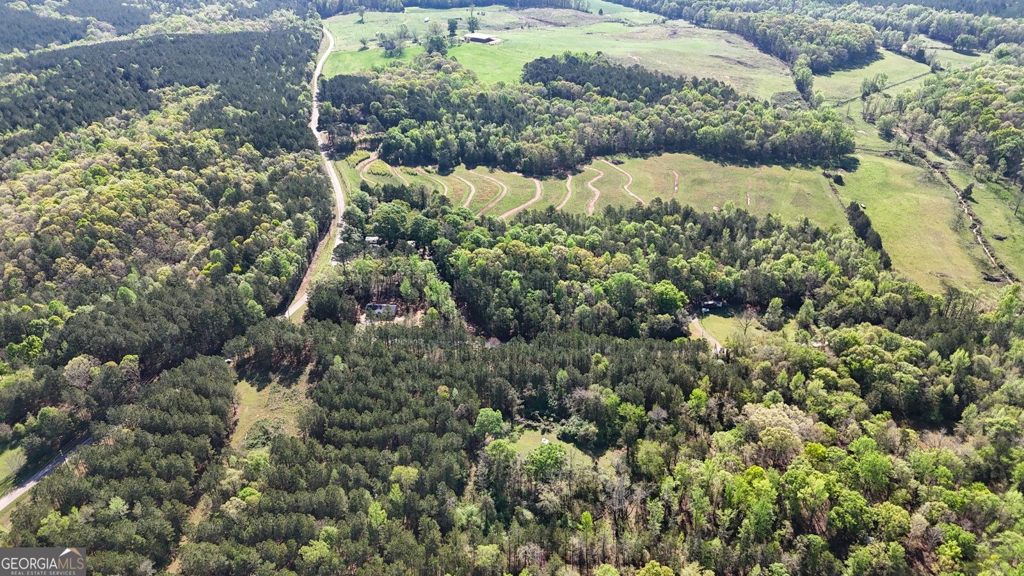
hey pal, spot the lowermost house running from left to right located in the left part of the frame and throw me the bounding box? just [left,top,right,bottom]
[365,304,399,320]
